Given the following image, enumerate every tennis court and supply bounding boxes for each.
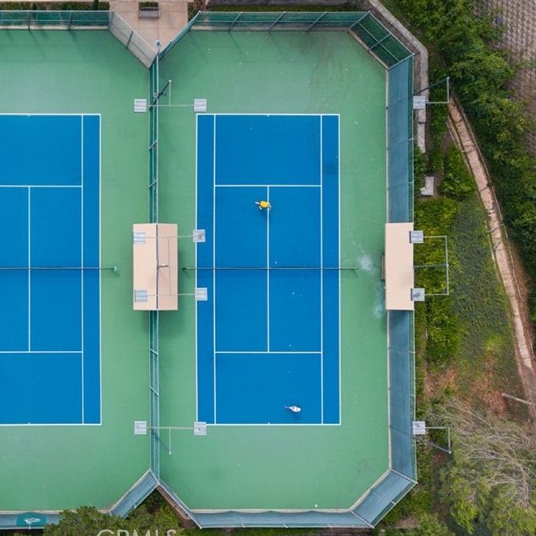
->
[149,31,387,507]
[0,31,150,509]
